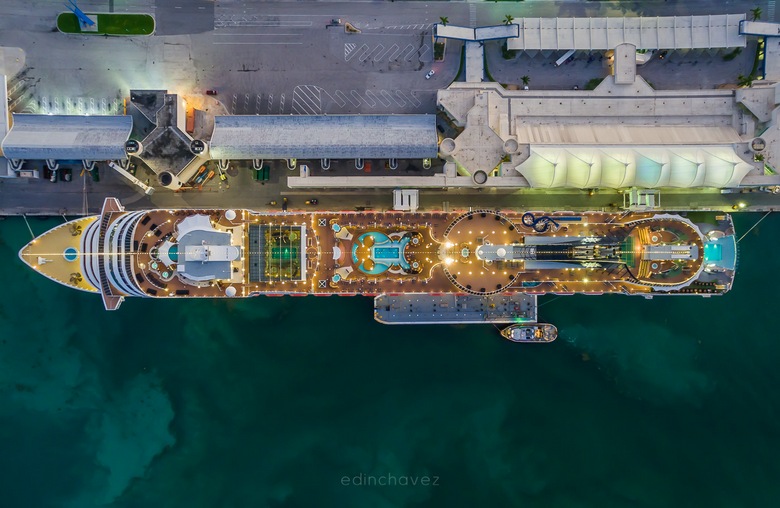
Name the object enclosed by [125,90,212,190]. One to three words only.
building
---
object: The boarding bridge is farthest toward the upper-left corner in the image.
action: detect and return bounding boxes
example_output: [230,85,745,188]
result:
[108,161,155,196]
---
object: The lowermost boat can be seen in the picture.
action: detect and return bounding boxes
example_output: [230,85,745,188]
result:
[500,323,558,343]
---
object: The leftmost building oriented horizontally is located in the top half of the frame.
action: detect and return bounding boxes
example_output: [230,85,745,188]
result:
[3,112,138,171]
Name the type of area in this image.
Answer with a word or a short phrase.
port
